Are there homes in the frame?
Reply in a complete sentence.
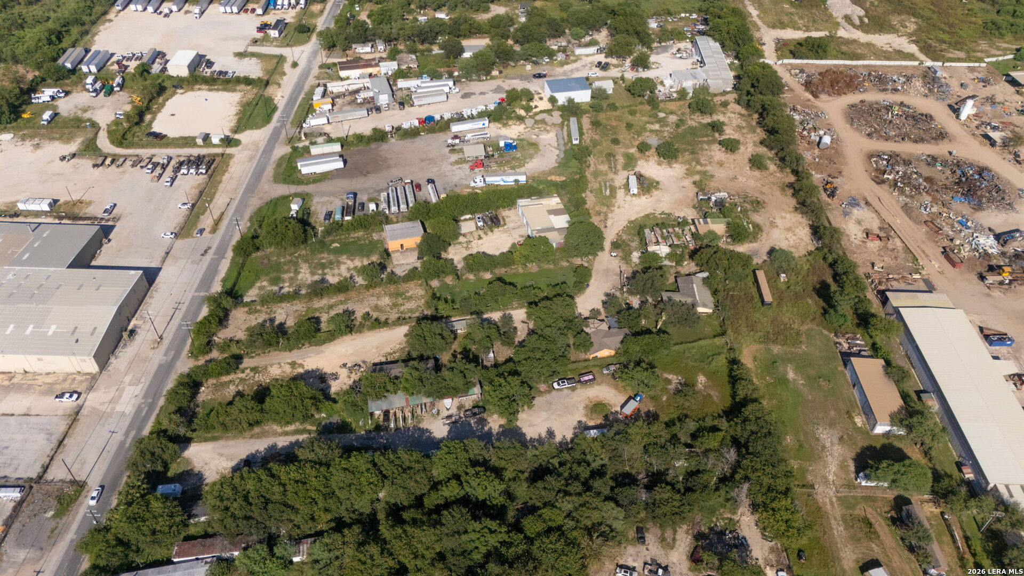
Yes, there is a home in the image.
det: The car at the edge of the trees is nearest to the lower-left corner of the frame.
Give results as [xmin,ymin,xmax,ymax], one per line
[88,486,106,509]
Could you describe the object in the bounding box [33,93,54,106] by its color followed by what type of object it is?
white vehicle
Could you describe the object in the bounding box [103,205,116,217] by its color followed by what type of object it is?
gray vehicle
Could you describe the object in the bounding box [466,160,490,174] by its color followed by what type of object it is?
red vehicle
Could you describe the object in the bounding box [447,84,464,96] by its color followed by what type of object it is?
white vehicle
